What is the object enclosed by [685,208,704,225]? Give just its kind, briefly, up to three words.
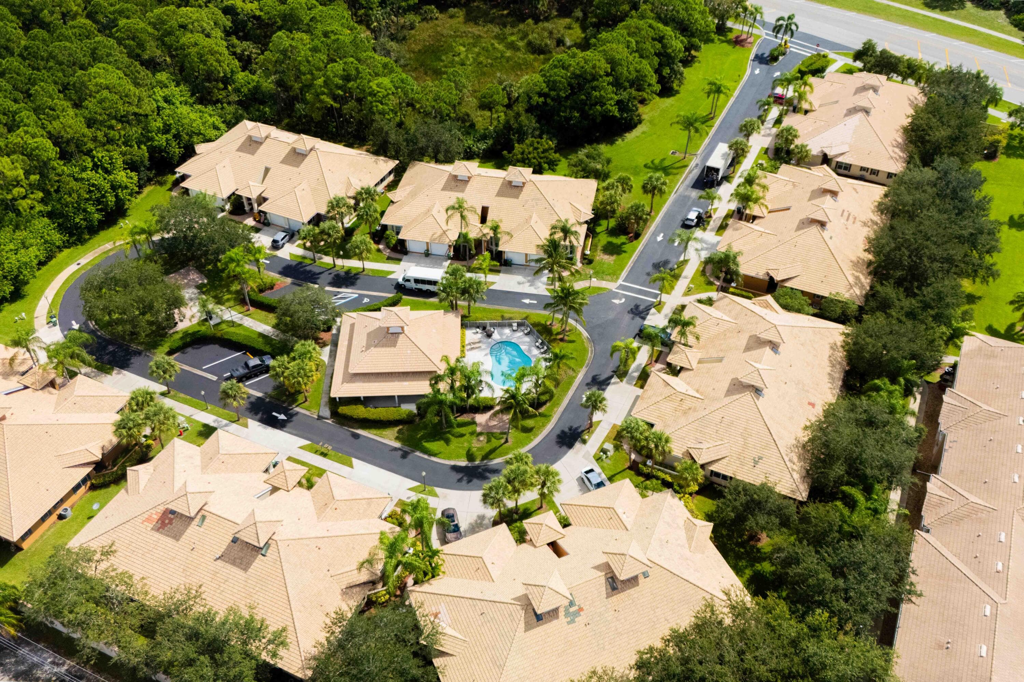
car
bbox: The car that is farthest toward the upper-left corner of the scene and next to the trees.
[269,229,295,248]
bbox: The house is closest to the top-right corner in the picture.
[787,72,918,177]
